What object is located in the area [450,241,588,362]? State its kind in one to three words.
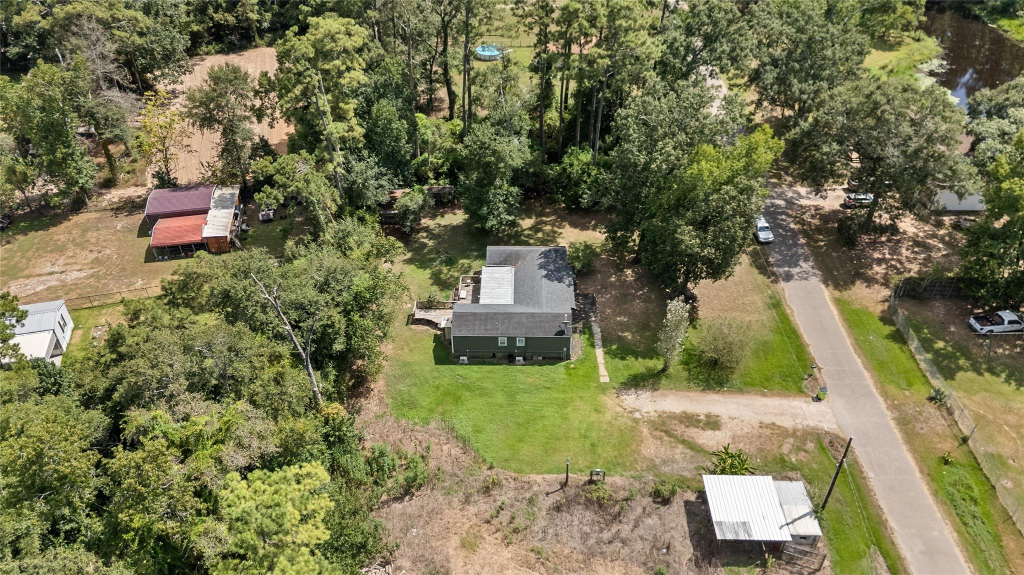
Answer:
house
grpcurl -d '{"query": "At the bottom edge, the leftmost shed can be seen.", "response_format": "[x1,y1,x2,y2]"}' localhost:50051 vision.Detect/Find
[699,475,791,566]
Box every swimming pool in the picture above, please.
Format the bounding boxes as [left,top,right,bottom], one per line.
[476,45,508,62]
